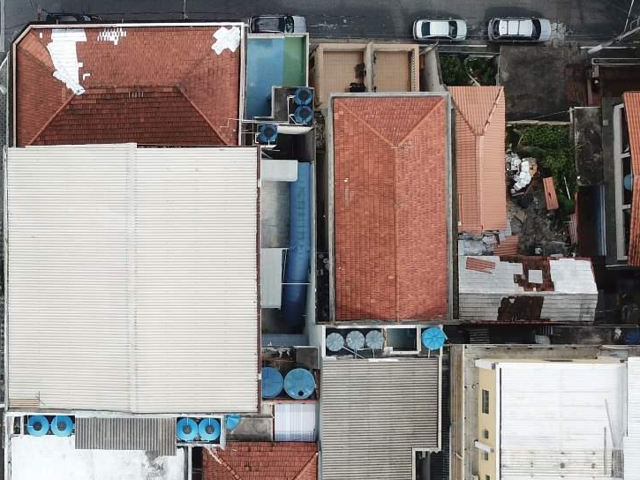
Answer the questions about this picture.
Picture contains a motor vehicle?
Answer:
Yes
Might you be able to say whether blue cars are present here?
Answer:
No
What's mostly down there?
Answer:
buildings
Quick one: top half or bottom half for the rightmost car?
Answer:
top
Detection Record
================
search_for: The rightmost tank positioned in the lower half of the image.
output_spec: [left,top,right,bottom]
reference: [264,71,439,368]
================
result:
[420,327,446,351]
